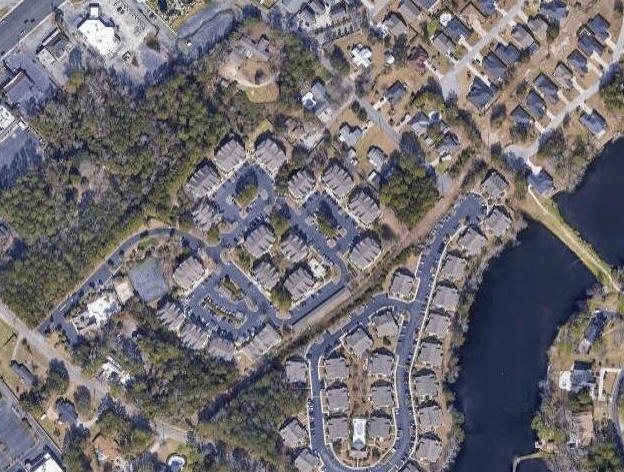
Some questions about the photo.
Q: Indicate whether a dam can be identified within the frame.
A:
Yes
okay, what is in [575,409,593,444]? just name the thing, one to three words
house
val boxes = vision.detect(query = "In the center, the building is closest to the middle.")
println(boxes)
[277,230,311,263]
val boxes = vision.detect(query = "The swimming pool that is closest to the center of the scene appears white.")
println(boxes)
[309,258,326,276]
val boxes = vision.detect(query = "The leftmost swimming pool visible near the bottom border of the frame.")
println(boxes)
[167,453,186,470]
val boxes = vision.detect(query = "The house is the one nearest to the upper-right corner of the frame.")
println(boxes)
[588,14,611,39]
